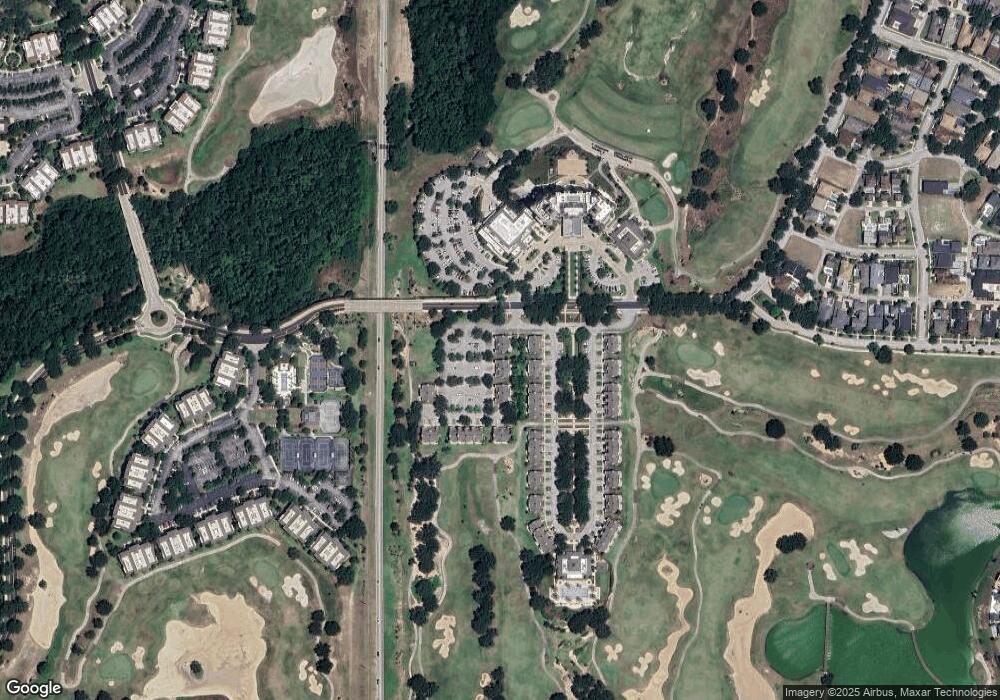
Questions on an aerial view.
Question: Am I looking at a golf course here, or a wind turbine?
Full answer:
Looking from above, you can make out a golf course.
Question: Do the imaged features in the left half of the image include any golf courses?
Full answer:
Yes, a golf course appears in the left half of the image.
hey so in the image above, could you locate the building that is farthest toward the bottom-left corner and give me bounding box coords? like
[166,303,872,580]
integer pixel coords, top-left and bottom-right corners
[118,545,157,573]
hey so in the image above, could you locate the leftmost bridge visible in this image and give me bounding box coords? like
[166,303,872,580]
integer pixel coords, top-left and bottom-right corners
[117,191,161,300]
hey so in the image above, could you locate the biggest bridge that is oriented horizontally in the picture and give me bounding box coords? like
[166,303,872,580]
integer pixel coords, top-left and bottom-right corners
[344,300,423,312]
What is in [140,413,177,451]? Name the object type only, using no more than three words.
building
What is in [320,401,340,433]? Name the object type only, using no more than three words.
basketball court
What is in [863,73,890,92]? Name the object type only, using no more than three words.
house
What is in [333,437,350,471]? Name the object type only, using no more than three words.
tennis court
